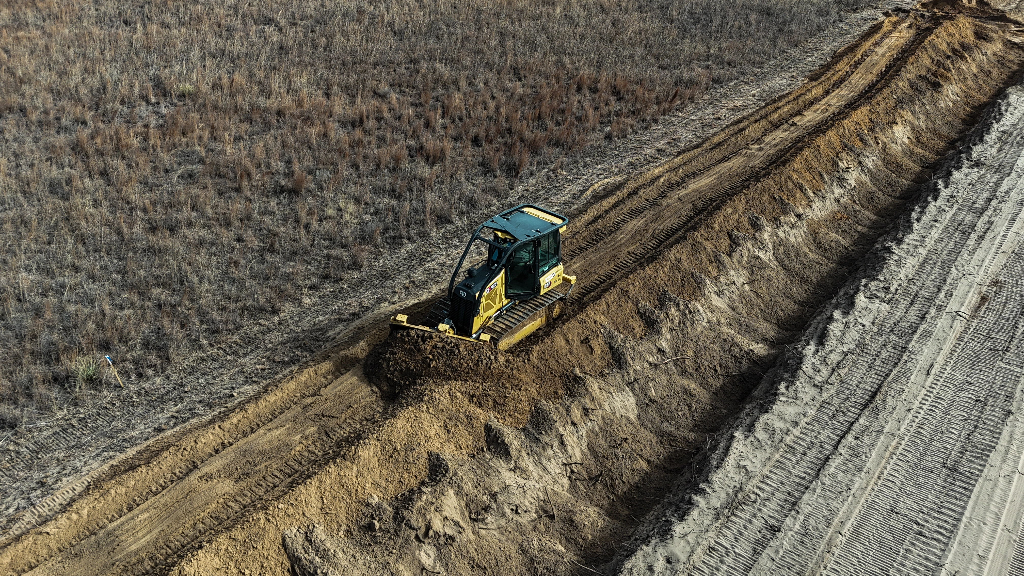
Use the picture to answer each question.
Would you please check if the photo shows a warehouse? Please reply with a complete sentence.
No, there is no warehouse in the image.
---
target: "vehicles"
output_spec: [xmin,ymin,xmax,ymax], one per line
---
[389,201,580,353]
